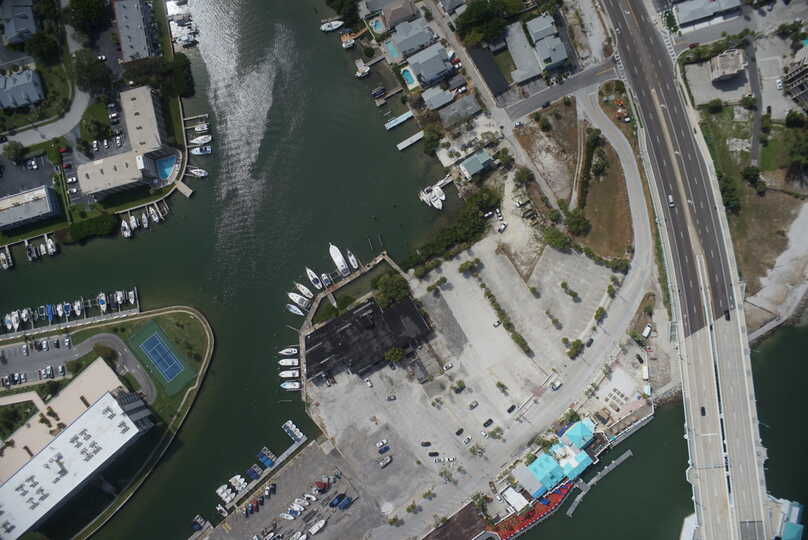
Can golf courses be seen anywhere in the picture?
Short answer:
No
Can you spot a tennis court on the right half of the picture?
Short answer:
No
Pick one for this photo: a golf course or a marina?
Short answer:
marina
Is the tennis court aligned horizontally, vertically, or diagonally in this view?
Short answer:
diagonally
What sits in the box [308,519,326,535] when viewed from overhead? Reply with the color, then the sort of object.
white boat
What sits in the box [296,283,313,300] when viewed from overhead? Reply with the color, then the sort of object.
white boat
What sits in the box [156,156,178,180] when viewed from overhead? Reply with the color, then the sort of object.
blue swimming pool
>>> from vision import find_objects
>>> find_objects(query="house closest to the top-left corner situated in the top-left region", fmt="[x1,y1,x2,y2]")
[2,0,41,44]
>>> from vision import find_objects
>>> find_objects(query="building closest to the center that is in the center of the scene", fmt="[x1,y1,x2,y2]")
[372,298,431,348]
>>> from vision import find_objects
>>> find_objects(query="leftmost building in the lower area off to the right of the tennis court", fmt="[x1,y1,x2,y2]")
[306,302,389,380]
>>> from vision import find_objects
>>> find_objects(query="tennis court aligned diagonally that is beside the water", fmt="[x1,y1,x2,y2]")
[129,320,196,393]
